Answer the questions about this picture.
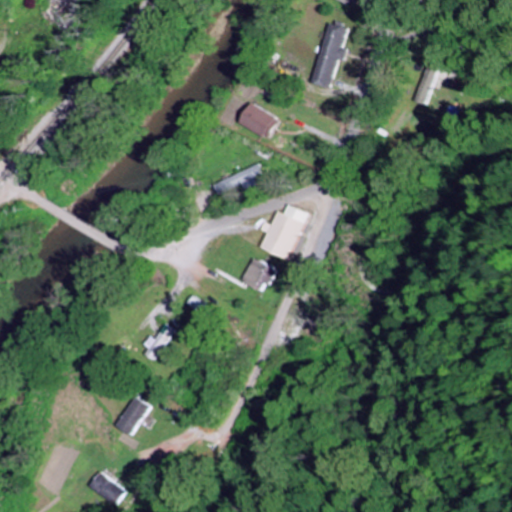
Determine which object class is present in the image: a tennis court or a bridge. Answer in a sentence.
It is a bridge that can be seen here.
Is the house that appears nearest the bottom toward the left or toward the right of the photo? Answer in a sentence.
It is on the left.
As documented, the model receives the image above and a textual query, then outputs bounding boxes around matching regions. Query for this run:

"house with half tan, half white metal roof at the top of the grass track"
[414,68,452,106]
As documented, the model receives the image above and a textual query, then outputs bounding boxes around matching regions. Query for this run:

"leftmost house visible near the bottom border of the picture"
[91,468,129,505]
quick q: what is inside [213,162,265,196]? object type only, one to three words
house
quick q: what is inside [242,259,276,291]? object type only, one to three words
house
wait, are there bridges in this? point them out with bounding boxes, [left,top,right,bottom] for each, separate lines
[21,180,122,252]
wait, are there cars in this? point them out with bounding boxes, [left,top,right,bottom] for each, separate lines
[206,294,218,304]
[294,120,306,129]
[206,268,217,276]
[335,80,348,89]
[254,220,266,230]
[413,60,422,73]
